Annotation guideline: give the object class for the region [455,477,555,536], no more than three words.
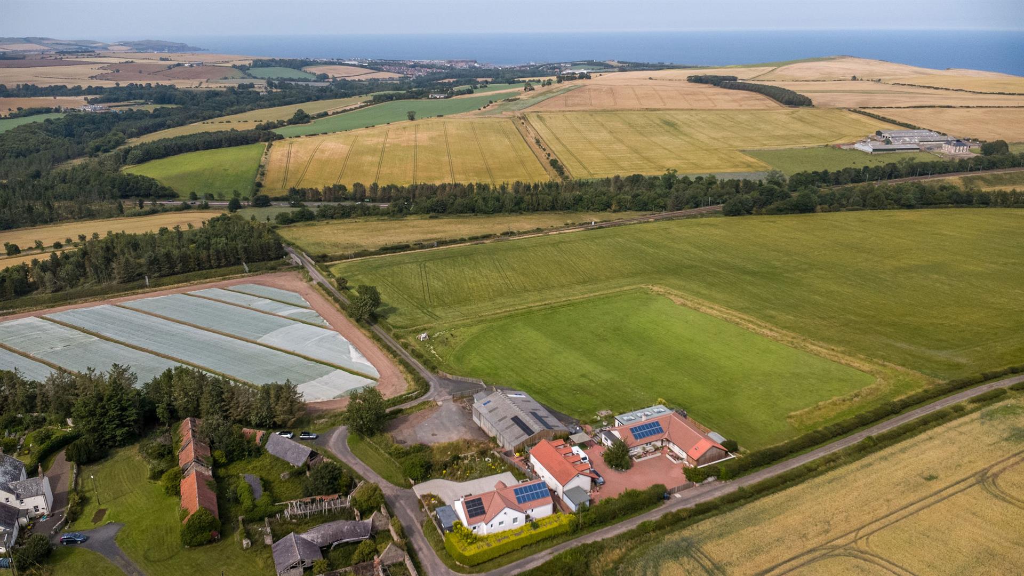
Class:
house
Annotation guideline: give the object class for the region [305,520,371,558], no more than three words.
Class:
building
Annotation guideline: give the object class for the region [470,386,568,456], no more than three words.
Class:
barn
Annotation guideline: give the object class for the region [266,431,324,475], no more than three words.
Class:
barn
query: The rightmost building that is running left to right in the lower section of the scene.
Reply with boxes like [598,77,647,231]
[589,405,729,468]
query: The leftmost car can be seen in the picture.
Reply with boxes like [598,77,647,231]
[60,534,89,547]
